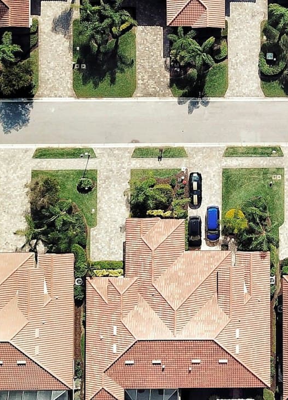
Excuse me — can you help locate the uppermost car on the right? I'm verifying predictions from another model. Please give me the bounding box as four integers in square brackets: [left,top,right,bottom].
[187,171,202,206]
